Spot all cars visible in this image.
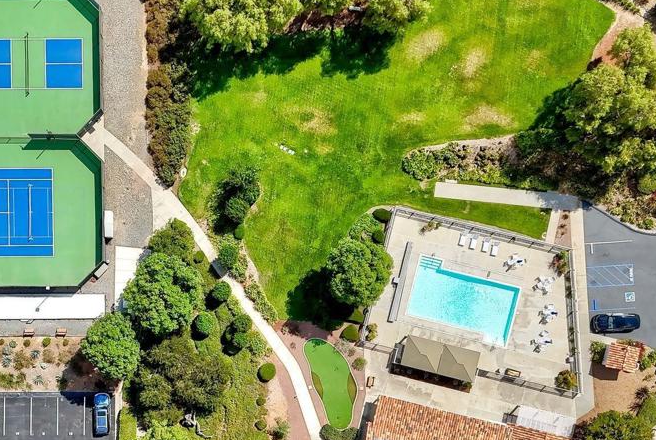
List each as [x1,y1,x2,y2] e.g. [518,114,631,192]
[93,394,112,436]
[589,313,637,333]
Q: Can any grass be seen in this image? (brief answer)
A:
Yes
